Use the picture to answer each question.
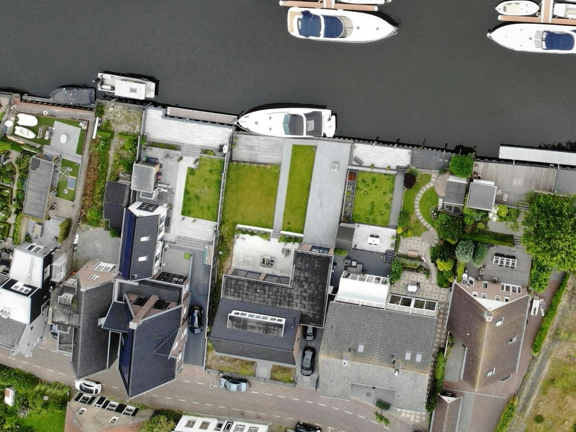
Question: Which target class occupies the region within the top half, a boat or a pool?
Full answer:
You can see a boat within the top half.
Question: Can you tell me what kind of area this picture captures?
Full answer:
This image shows a residential area.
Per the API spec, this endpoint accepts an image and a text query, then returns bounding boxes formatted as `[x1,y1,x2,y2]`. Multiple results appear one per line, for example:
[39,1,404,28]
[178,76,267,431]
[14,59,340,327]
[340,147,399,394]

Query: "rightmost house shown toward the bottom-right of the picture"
[455,272,531,392]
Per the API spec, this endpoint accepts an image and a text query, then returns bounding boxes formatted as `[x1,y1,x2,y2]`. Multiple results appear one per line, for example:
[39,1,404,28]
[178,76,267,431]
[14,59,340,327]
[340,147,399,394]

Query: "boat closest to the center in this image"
[234,106,335,137]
